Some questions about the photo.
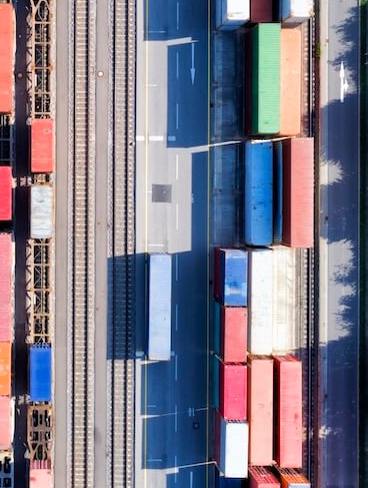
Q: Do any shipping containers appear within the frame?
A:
Yes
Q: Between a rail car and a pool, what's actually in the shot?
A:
rail car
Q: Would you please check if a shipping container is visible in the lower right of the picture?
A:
Yes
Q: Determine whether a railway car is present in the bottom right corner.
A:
No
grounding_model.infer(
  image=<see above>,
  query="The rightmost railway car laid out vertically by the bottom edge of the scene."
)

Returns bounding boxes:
[27,405,52,468]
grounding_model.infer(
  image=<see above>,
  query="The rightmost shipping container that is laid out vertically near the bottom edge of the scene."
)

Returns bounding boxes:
[271,355,302,468]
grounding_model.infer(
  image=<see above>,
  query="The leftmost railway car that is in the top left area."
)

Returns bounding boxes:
[0,1,15,225]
